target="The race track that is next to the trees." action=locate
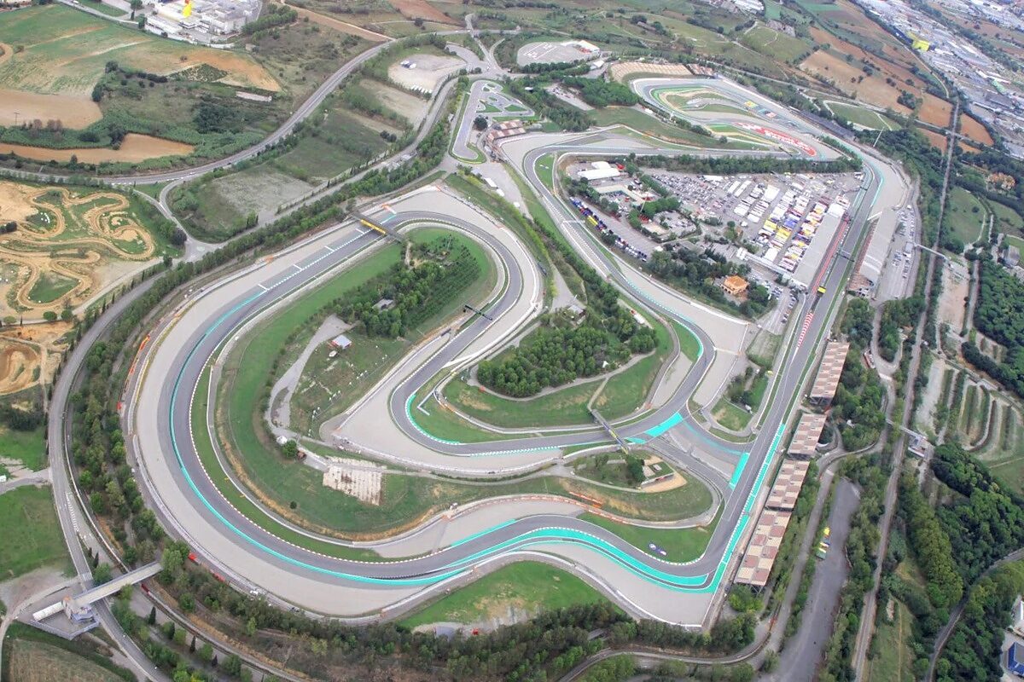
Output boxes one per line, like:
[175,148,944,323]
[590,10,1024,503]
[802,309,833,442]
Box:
[176,78,882,578]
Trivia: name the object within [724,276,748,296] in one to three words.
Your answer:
house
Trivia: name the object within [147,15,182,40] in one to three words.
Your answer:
building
